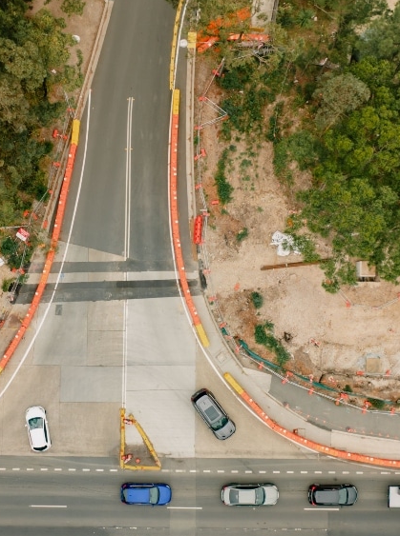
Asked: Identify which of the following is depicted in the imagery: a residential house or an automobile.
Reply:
automobile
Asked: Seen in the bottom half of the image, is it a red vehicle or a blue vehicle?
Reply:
blue vehicle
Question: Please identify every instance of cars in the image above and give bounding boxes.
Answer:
[121,481,172,509]
[24,405,51,454]
[191,386,234,442]
[221,481,277,509]
[307,482,357,509]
